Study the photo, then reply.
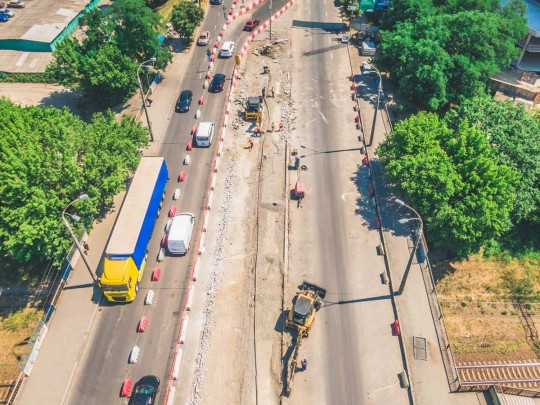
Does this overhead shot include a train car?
No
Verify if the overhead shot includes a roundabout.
No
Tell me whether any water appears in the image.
No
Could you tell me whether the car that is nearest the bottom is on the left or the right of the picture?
left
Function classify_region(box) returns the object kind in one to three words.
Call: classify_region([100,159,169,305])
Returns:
truck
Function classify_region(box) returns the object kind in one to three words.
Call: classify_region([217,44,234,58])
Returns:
car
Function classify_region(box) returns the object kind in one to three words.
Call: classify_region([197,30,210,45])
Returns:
vehicle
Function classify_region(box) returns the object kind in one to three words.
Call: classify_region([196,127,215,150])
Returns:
vehicle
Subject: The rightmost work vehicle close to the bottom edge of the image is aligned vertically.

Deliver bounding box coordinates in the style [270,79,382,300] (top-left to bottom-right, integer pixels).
[283,277,330,393]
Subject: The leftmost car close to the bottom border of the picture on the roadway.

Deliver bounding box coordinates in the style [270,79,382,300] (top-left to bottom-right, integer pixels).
[127,378,159,405]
